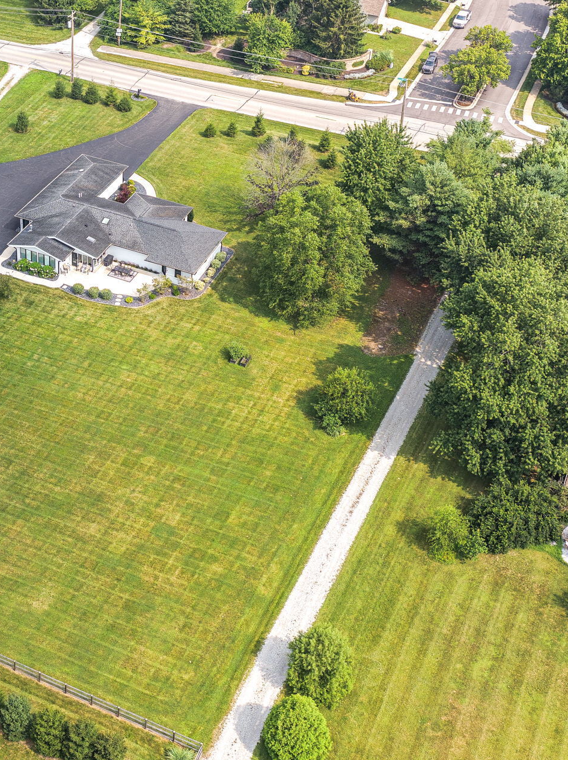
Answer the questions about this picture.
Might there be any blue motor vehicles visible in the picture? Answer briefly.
No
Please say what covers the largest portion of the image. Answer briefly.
grass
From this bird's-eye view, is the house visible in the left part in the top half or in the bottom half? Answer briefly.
top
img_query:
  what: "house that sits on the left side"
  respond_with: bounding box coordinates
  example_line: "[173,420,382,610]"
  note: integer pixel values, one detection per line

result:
[6,154,228,289]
